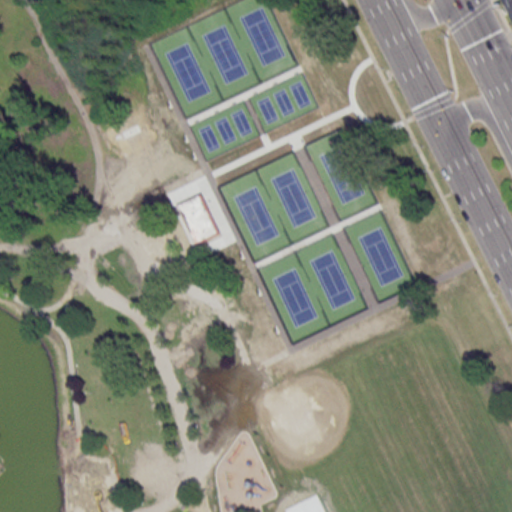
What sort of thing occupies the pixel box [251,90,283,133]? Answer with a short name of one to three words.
sports court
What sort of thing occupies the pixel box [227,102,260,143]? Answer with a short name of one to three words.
sports court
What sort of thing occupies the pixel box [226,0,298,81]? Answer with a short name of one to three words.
tennis court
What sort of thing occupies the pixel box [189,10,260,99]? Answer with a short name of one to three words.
tennis court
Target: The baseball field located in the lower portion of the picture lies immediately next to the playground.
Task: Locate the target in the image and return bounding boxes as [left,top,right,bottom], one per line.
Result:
[259,316,512,512]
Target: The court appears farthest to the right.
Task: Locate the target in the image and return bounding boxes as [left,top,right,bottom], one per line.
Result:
[344,212,410,302]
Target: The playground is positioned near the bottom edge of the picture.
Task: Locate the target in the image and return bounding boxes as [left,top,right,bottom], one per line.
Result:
[216,431,277,512]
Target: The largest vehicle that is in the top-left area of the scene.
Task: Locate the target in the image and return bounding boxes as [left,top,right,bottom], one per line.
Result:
[118,126,141,139]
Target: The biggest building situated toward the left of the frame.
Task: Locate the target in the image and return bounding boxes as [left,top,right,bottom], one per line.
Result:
[178,194,220,244]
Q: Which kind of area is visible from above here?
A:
sports ground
